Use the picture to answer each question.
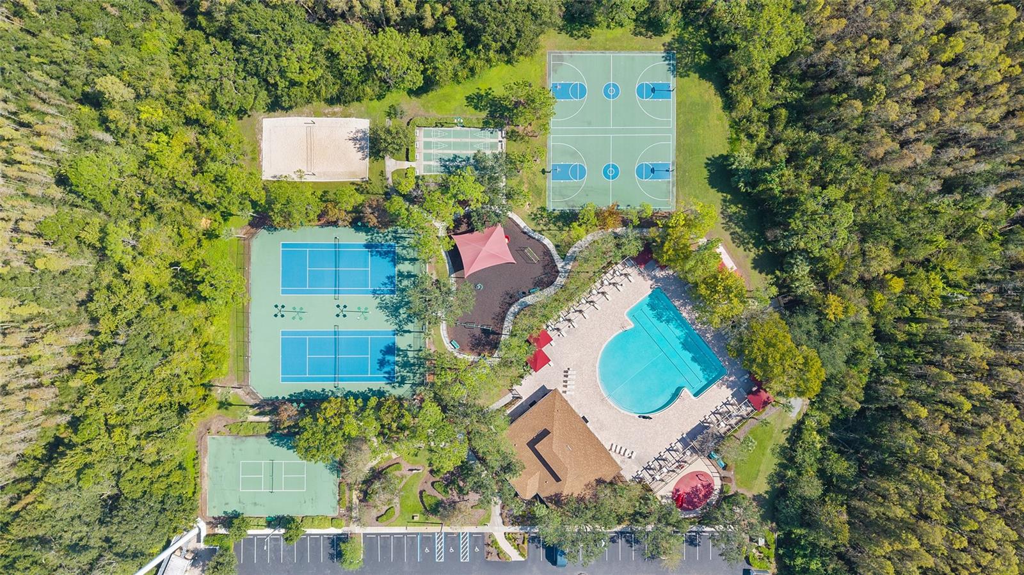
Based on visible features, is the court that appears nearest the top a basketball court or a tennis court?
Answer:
basketball court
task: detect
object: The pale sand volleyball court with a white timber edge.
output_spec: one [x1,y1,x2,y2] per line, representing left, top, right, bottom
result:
[262,117,369,181]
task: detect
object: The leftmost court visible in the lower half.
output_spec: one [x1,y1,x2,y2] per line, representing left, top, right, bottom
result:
[207,436,338,516]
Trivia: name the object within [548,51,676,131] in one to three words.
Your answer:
basketball court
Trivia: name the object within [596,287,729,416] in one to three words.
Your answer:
swimming pool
